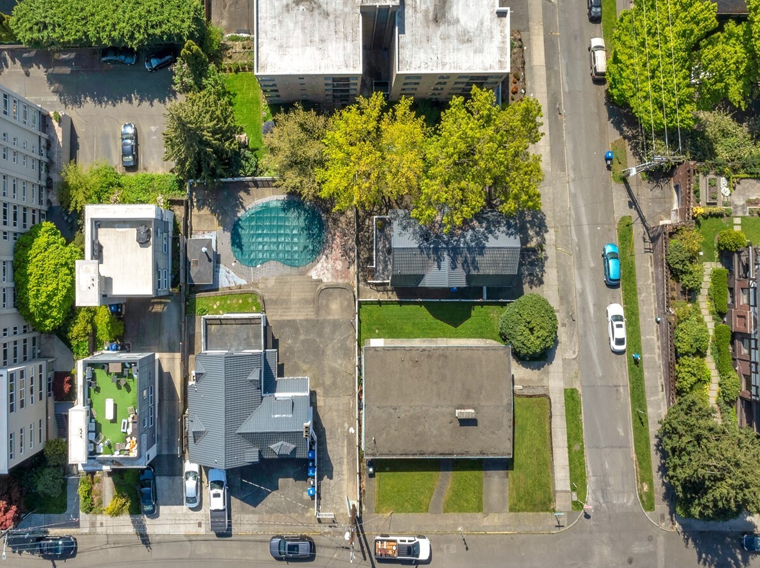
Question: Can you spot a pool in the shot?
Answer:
Yes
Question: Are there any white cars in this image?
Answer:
Yes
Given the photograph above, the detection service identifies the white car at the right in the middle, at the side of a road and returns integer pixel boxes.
[604,302,628,353]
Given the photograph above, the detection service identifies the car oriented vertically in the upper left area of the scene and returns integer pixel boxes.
[118,120,141,171]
